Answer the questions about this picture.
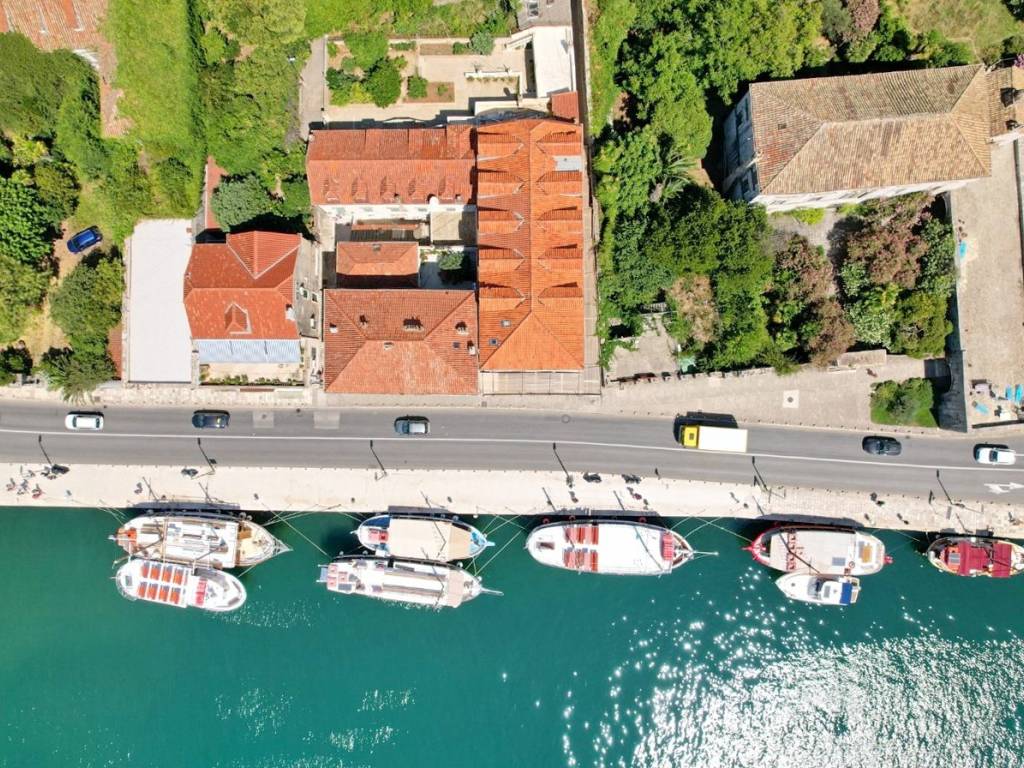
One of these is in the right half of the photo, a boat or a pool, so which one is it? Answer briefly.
boat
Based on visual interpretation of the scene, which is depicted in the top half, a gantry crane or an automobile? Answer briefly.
automobile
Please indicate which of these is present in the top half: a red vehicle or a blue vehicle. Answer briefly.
blue vehicle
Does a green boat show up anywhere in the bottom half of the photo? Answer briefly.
No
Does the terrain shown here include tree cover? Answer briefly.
Yes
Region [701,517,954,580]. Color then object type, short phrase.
white boat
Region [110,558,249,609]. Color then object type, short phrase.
white boat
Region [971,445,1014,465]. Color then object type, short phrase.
white car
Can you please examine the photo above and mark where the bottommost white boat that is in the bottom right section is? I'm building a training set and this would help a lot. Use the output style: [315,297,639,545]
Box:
[774,572,862,606]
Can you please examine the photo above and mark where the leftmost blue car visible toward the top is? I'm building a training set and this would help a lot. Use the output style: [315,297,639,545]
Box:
[68,228,106,253]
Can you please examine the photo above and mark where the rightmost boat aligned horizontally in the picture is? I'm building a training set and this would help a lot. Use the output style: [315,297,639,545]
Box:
[921,530,1024,577]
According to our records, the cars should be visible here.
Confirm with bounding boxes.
[971,445,1014,465]
[859,436,900,455]
[69,411,108,431]
[194,410,232,429]
[395,417,430,436]
[68,228,106,253]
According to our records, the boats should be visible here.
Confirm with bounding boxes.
[701,517,954,580]
[921,530,1024,577]
[339,508,568,561]
[110,558,249,609]
[774,572,862,606]
[101,504,342,573]
[289,512,523,607]
[478,508,722,575]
